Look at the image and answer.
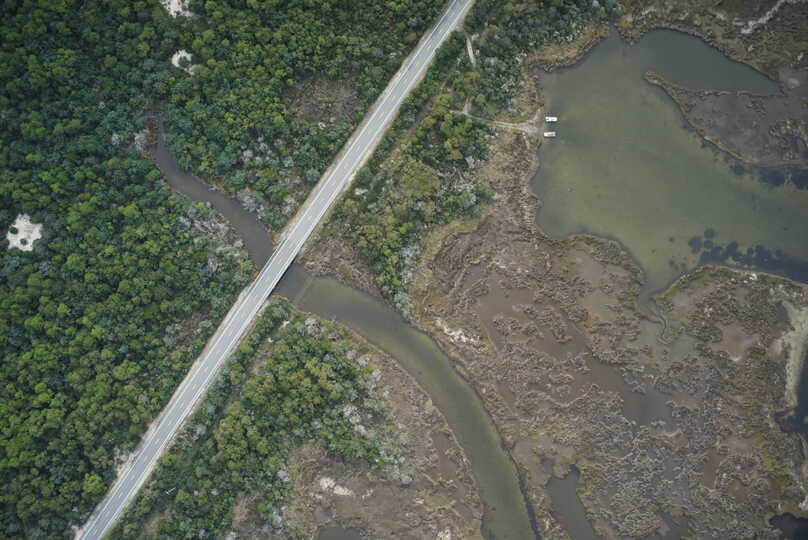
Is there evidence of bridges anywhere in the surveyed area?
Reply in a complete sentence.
Yes, the photo shows a bridge.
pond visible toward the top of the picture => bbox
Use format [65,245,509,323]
[529,25,808,342]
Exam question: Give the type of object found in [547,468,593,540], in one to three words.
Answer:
pond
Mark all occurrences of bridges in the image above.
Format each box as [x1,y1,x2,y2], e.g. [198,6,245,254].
[241,226,308,309]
